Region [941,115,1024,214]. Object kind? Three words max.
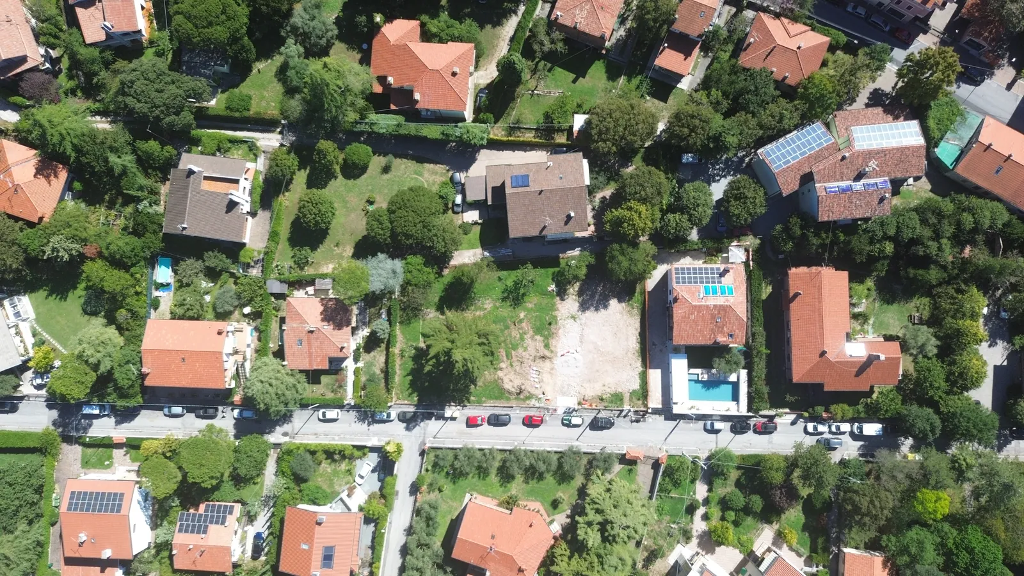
building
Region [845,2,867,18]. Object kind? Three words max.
car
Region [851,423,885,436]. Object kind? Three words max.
vehicle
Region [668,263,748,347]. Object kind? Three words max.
house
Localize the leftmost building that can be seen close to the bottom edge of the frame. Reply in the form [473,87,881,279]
[60,471,151,576]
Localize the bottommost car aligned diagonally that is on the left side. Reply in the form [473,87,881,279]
[354,459,375,485]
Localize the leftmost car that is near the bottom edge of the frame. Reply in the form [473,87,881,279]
[253,533,265,557]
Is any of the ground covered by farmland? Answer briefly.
No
